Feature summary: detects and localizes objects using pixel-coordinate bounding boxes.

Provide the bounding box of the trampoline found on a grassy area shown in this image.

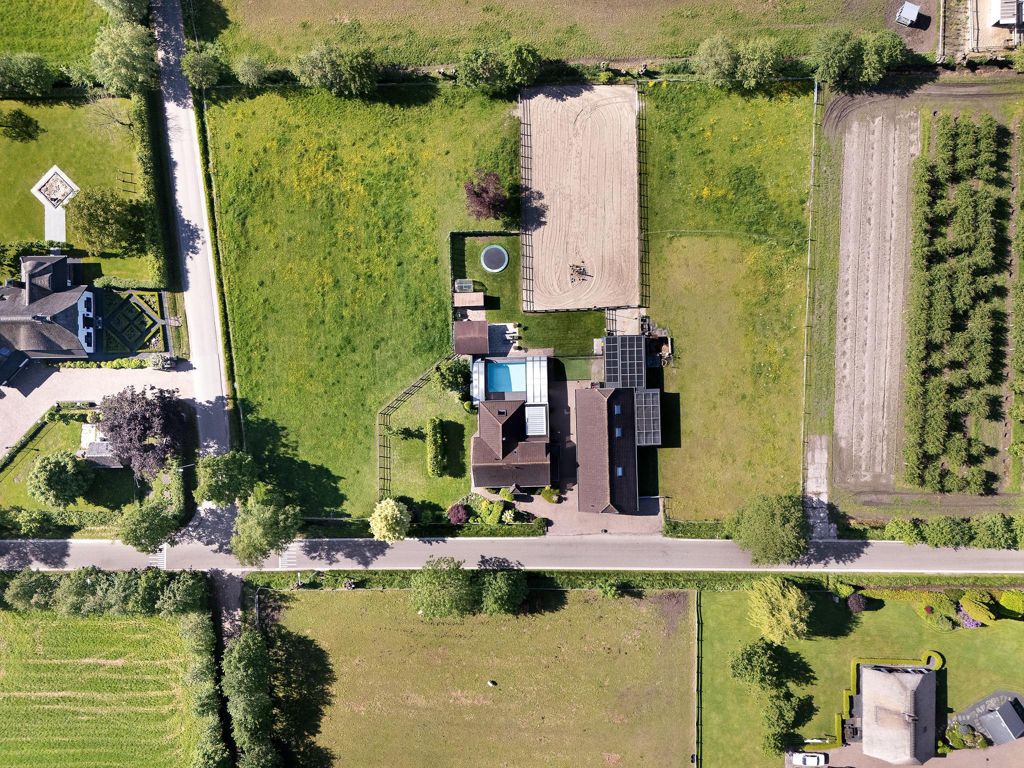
[481,245,508,272]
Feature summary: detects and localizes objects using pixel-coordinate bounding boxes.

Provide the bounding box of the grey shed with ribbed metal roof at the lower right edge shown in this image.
[967,690,1024,746]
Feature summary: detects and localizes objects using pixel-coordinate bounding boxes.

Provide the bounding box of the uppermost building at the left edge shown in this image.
[0,253,104,397]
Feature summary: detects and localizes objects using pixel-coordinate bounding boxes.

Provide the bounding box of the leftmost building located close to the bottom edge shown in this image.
[855,664,935,764]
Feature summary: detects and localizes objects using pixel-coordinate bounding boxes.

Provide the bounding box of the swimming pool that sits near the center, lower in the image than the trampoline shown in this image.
[484,356,526,401]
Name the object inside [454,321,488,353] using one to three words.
shed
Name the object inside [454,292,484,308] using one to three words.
shed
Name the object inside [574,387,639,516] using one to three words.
barn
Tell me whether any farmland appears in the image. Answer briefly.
Yes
